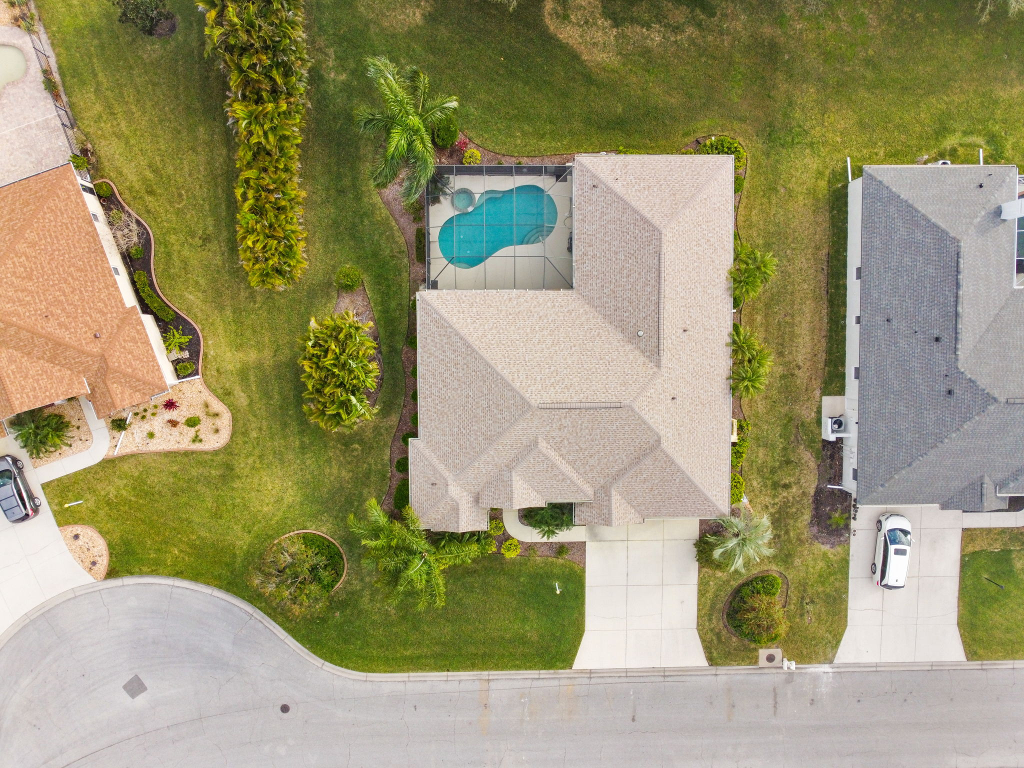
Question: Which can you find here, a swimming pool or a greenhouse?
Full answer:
This aerial view contains a swimming pool.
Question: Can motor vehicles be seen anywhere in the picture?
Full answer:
Yes, the picture does show a motor vehicle.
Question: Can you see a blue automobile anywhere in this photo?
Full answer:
No, I find no blue automobile anywhere in the image.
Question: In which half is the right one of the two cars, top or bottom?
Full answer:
The bottom half of the photo is where the right one of the two cars is.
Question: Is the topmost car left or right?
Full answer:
The topmost car sits on the left side.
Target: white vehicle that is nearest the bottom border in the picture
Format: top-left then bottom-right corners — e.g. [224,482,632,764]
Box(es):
[871,511,915,588]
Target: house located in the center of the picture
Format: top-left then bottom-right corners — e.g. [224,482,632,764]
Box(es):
[408,153,735,532]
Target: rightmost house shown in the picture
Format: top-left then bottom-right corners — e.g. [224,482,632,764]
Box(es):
[843,164,1024,511]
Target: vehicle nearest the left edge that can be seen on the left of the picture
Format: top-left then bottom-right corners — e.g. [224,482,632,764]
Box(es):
[0,452,39,528]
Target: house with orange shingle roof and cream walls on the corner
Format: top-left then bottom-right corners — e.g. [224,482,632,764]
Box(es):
[0,162,178,440]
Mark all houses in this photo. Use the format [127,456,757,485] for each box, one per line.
[408,153,735,532]
[0,162,178,440]
[843,164,1024,511]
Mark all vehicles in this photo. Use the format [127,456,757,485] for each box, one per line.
[871,511,915,588]
[0,452,39,528]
